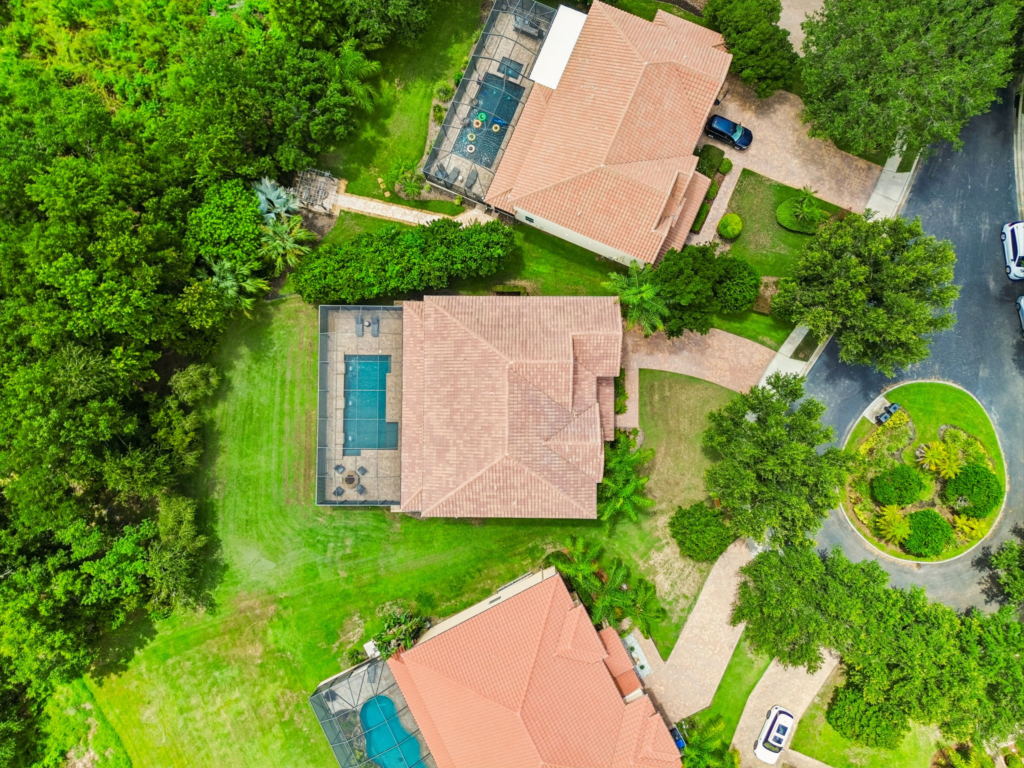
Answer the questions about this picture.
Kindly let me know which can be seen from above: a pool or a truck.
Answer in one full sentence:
Visible in the photo is a pool.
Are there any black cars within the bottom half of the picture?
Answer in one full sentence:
No, I can find no black car within the bottom half of the picture.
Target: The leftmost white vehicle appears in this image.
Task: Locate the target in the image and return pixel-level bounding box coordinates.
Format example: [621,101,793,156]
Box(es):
[751,701,788,757]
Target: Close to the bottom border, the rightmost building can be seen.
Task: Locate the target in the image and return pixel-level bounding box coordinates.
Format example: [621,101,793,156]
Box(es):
[386,568,684,768]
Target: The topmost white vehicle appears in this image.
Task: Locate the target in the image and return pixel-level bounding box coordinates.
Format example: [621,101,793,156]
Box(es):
[999,224,1024,275]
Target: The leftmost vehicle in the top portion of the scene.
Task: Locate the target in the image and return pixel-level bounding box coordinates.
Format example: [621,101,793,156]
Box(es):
[706,113,755,149]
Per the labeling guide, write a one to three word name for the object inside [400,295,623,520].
house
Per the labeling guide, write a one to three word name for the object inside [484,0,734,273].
house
